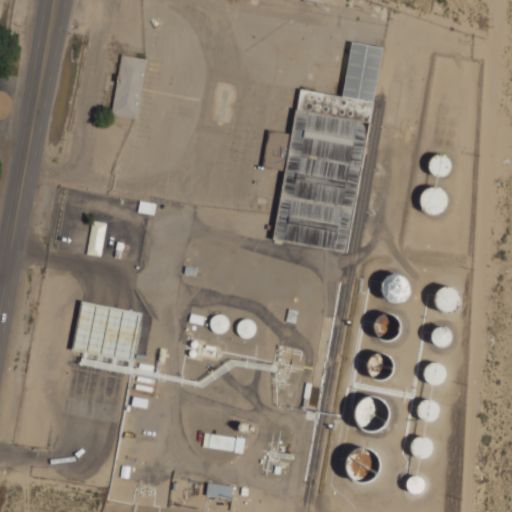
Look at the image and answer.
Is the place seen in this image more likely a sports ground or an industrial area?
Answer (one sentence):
This image shows an industrial area.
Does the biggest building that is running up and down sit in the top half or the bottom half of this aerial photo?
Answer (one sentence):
The biggest building that is running up and down sits in the top half of the picture.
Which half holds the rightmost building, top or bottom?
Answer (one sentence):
It is in the top half that the rightmost building appears.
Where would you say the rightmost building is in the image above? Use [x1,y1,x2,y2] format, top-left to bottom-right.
[343,42,384,99]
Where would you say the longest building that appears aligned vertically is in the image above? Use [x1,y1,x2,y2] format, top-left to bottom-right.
[274,89,374,253]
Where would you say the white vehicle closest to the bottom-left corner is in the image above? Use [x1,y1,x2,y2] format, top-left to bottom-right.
[50,449,86,465]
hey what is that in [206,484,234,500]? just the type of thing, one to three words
building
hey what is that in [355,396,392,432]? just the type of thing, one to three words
storage tank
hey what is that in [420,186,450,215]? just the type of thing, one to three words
storage tank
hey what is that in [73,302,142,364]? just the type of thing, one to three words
shed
